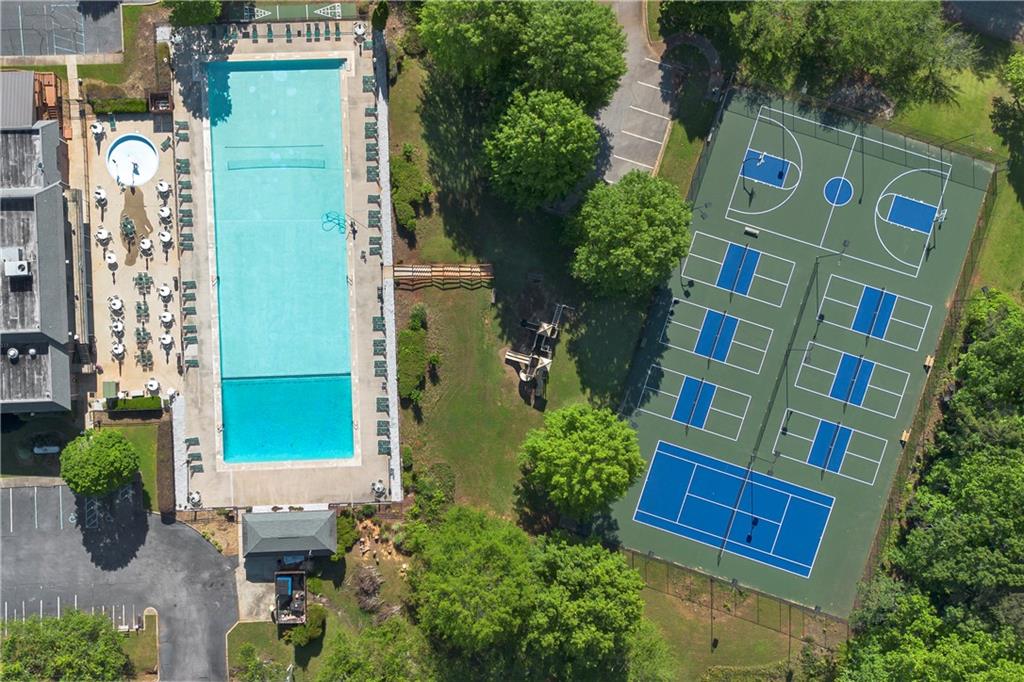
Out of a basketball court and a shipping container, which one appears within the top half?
basketball court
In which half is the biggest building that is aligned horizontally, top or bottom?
bottom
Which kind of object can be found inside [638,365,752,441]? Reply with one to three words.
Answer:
sports court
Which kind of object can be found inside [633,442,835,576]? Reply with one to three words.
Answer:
tennis court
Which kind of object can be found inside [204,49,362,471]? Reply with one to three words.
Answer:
swimming pool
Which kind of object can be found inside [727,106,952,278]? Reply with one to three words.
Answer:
basketball court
